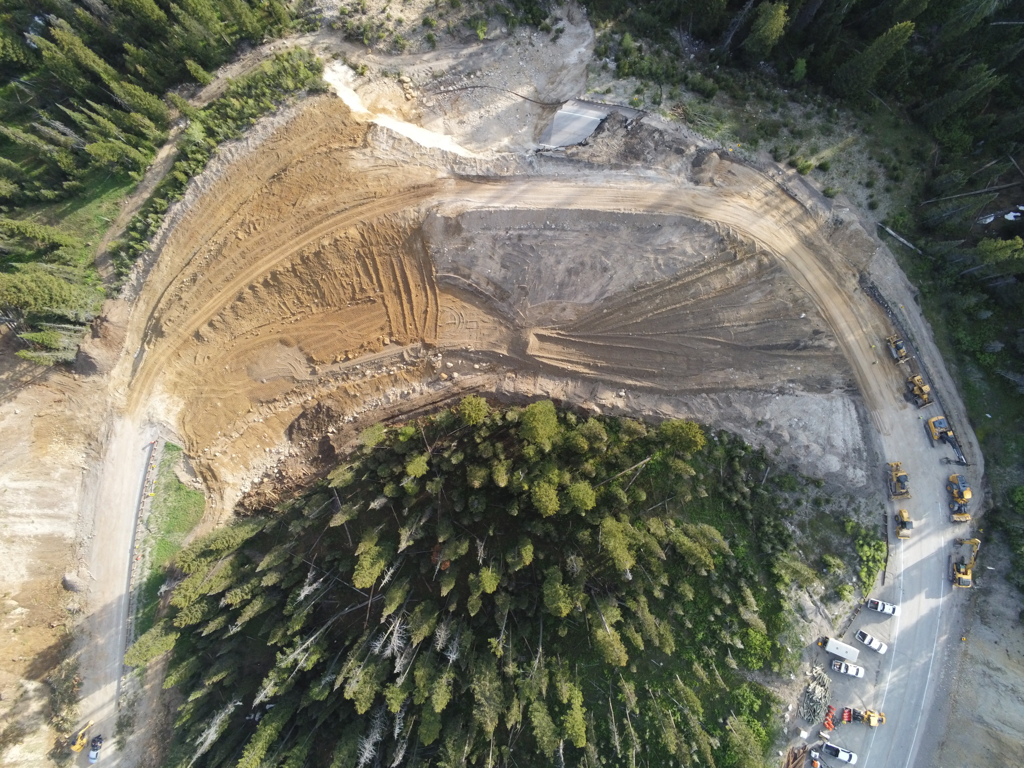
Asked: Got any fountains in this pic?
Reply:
No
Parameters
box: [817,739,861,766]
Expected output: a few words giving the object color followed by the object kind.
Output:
white truck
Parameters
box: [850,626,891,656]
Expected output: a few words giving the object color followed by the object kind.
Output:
white truck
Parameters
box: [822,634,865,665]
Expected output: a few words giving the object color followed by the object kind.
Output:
white trailer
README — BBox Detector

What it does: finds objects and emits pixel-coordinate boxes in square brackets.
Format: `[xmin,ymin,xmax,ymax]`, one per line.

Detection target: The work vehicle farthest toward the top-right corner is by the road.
[883,331,912,367]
